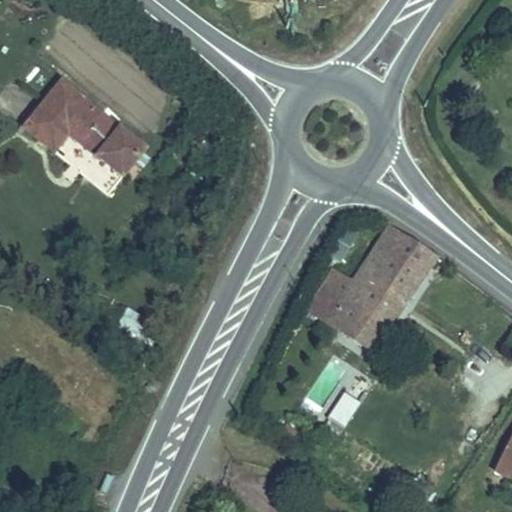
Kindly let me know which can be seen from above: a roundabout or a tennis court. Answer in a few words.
roundabout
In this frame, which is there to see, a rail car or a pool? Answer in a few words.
pool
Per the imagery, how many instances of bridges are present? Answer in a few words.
0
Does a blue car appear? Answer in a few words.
No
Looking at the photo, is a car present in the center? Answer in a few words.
No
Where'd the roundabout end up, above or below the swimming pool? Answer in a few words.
above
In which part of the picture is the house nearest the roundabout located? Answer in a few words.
right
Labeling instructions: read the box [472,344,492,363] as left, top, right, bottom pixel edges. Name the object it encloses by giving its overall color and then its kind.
gray car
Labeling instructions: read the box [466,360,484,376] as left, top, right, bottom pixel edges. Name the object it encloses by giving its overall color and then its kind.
white car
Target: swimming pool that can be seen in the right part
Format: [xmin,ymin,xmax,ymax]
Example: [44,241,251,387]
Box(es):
[302,356,348,414]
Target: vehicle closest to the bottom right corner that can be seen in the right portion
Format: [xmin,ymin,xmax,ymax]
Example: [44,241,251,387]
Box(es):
[466,426,478,443]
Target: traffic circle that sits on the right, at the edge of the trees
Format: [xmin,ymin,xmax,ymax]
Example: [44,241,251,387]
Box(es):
[268,61,401,206]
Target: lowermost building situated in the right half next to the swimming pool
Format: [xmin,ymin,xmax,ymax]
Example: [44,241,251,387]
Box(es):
[329,392,361,428]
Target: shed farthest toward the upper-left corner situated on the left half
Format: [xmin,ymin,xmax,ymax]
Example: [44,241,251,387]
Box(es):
[0,84,34,118]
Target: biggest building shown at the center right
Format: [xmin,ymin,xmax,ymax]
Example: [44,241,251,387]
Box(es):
[310,225,438,350]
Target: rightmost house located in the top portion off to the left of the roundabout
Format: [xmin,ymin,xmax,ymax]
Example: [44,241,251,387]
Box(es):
[20,75,151,198]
